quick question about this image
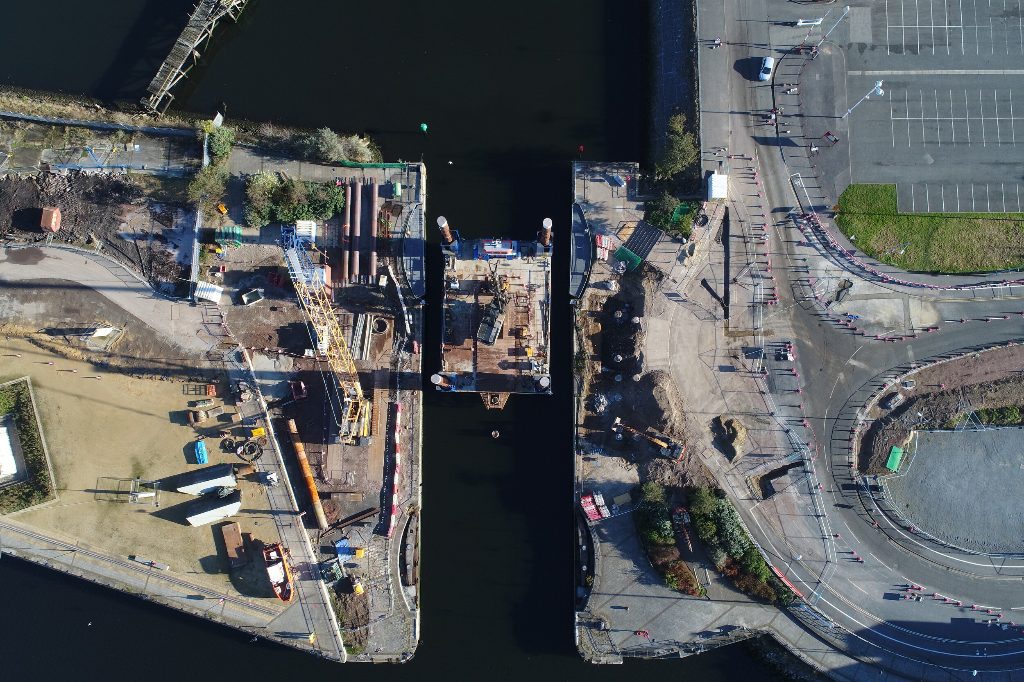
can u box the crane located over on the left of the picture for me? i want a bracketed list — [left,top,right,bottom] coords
[279,223,381,447]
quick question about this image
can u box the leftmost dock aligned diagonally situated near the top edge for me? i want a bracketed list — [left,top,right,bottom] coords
[140,0,251,114]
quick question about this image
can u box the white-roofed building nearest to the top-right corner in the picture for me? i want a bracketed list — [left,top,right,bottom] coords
[709,174,727,202]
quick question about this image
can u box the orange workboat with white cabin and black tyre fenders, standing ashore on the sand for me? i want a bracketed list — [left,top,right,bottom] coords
[263,542,294,603]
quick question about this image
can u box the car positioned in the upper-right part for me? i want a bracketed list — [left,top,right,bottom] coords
[760,53,776,80]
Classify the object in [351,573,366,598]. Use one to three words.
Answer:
vehicle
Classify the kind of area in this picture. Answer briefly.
port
